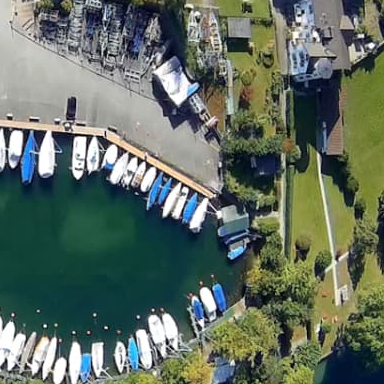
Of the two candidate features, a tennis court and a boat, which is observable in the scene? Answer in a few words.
boat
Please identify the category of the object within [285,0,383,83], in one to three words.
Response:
house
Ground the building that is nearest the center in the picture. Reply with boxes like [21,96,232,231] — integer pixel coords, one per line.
[219,205,249,232]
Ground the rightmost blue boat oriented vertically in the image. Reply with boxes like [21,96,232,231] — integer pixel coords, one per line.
[213,284,226,312]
